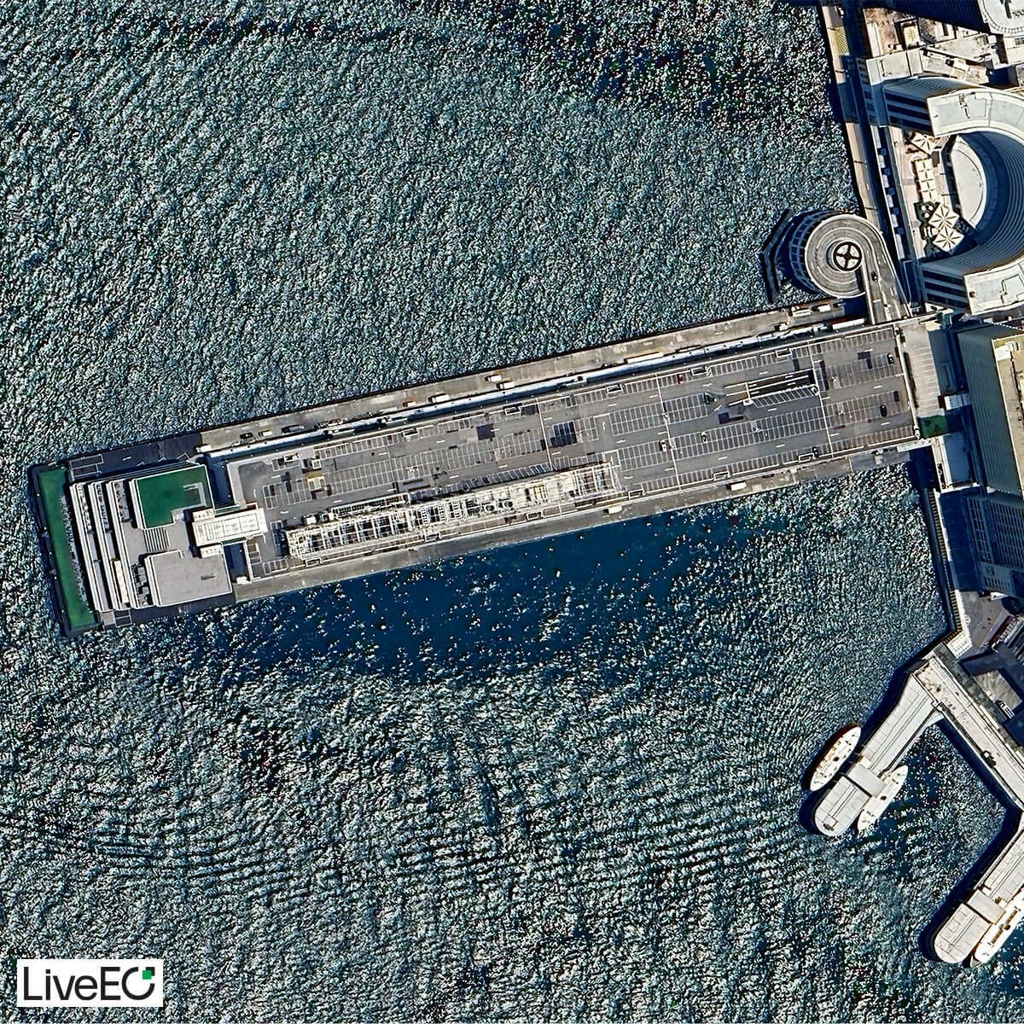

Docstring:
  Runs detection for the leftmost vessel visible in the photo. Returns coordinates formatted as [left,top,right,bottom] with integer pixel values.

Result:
[809,726,860,791]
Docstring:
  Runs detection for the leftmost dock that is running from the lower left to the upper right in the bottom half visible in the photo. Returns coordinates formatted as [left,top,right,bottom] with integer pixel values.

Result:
[806,673,945,837]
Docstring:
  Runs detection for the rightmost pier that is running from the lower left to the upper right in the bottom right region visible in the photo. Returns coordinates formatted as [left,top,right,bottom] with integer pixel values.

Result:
[924,807,1024,963]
